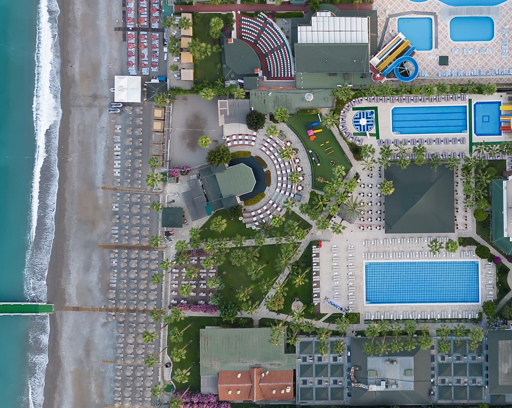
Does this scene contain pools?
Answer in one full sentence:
Yes, a pool appears in the view.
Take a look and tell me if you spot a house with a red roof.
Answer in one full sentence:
Yes, I can see a house with a red roof in this picture.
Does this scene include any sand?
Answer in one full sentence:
Yes, sand shows up in the scene.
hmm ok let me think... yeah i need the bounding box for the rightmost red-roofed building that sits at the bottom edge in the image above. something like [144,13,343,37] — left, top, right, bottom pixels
[218,367,295,402]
